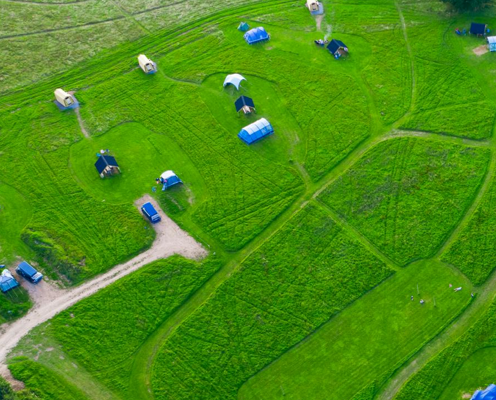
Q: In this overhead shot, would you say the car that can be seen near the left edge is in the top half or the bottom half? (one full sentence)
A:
The car that can be seen near the left edge is in the bottom half of the image.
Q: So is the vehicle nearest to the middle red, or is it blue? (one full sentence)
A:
The color of the vehicle nearest to the middle is blue.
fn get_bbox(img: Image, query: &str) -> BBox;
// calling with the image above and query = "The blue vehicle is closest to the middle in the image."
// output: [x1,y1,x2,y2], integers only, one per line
[141,199,162,225]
